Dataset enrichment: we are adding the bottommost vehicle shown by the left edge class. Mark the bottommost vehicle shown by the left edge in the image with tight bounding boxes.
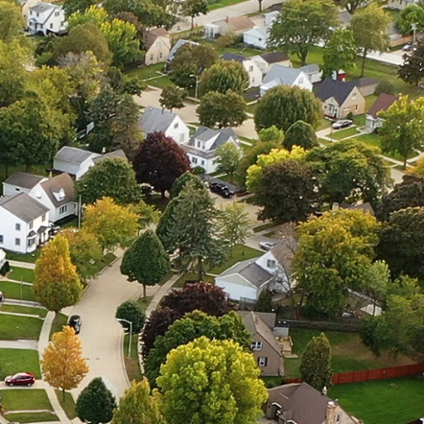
[5,367,38,384]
